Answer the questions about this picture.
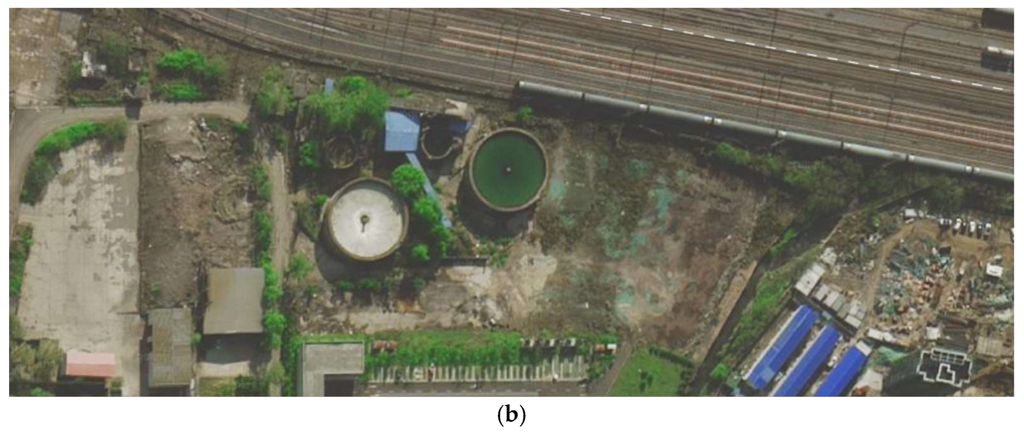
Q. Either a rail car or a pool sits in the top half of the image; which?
rail car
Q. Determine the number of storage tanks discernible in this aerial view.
2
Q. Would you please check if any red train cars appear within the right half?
No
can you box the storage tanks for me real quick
[466,126,548,213]
[321,179,408,261]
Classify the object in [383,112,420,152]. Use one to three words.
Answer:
building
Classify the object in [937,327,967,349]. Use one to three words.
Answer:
shed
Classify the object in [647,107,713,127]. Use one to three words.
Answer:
rail car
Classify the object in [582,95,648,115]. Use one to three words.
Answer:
rail car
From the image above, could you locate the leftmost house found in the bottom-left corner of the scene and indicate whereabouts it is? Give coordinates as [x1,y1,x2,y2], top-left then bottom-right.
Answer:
[65,350,116,375]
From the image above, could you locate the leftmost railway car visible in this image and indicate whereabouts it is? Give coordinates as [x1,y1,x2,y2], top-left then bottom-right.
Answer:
[517,82,584,102]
